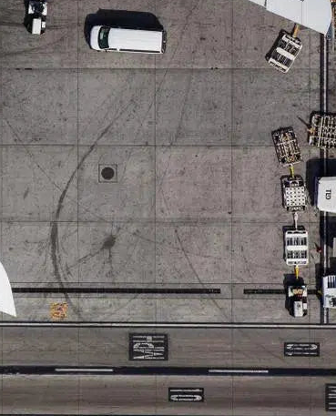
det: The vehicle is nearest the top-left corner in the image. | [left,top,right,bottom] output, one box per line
[29,0,47,34]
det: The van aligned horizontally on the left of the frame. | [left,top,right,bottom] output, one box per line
[91,22,166,53]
